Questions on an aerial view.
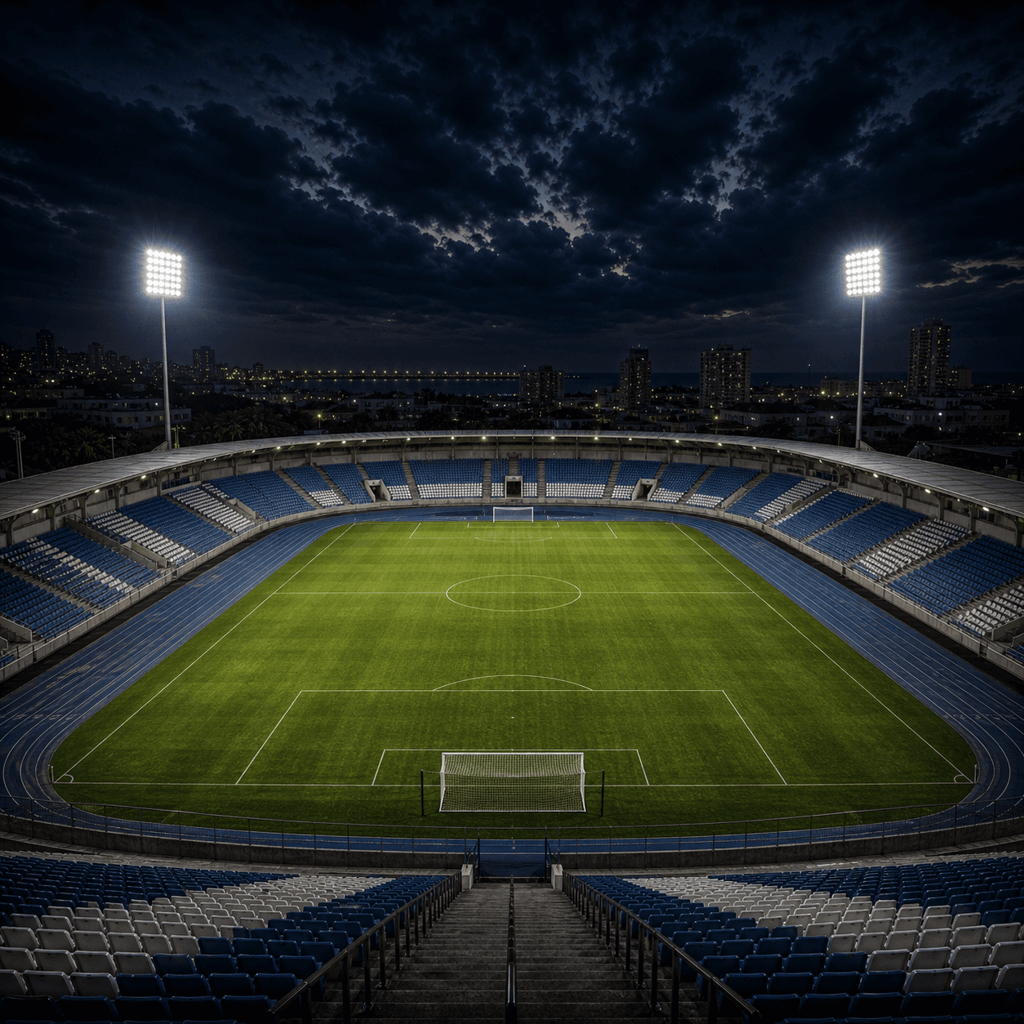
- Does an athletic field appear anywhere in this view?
Yes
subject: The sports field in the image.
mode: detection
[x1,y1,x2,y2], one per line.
[62,521,962,838]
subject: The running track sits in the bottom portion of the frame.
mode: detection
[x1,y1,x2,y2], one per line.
[0,507,1024,863]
